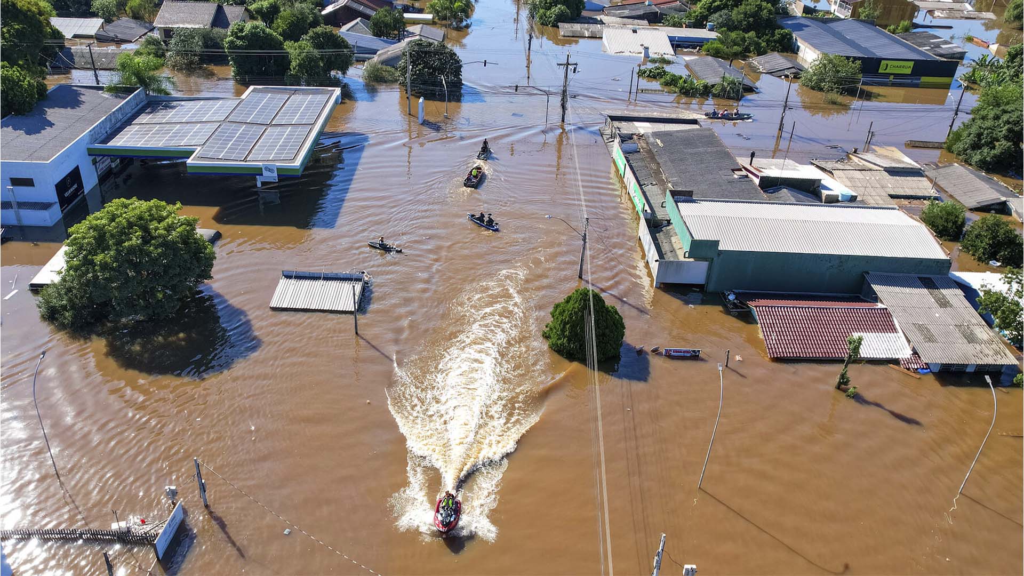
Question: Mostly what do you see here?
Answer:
water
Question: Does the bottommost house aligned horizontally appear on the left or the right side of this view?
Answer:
right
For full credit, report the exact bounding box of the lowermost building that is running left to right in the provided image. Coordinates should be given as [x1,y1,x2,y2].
[740,301,921,363]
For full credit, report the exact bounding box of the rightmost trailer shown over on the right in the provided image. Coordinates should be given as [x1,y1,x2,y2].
[717,290,754,318]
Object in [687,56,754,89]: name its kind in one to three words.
house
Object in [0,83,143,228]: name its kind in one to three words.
building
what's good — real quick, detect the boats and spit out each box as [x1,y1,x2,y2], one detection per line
[705,108,755,120]
[431,491,462,531]
[472,141,492,160]
[462,160,487,189]
[468,213,500,231]
[368,241,402,252]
